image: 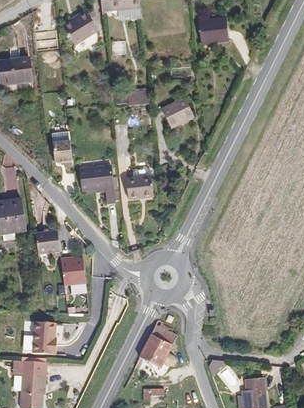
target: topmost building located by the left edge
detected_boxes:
[0,47,34,91]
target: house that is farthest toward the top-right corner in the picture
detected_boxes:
[197,16,230,44]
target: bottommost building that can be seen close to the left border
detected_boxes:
[10,360,46,408]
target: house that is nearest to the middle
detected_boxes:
[126,164,154,202]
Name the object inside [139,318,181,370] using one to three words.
house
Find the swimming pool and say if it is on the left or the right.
right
